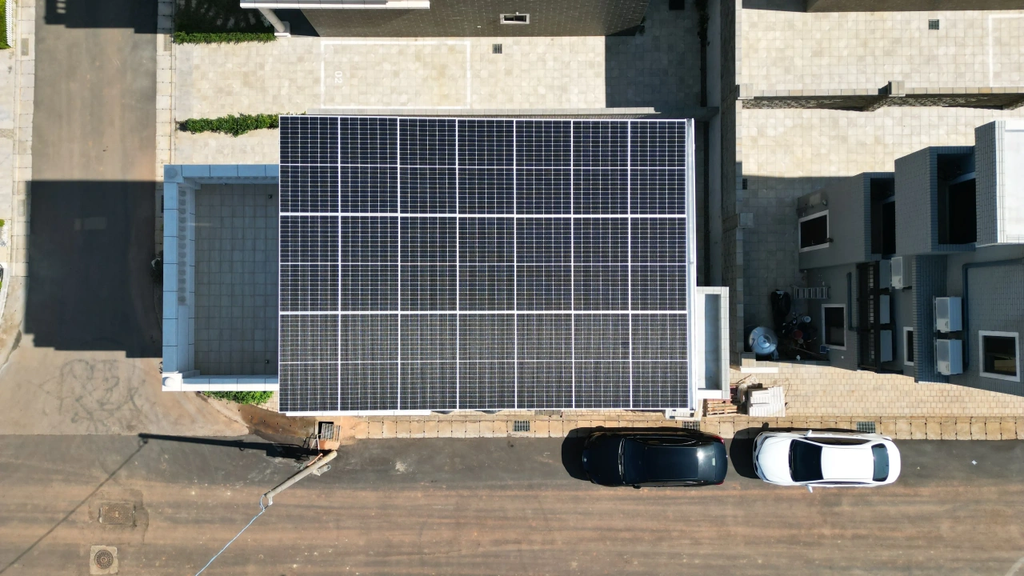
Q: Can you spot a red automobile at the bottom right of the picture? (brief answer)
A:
No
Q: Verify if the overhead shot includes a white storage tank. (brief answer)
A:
No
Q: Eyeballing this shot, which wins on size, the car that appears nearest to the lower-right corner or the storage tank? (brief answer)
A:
the car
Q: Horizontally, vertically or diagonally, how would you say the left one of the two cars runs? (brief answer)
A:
horizontally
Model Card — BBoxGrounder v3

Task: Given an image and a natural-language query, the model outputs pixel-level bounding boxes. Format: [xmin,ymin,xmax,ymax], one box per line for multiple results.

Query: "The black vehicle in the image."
[581,429,727,495]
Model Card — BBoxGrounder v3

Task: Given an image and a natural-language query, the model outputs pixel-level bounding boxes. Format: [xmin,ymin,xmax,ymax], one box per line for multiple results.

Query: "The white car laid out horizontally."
[752,427,901,494]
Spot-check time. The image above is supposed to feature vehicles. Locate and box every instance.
[581,429,727,495]
[752,427,901,494]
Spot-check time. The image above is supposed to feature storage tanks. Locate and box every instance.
[742,326,775,358]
